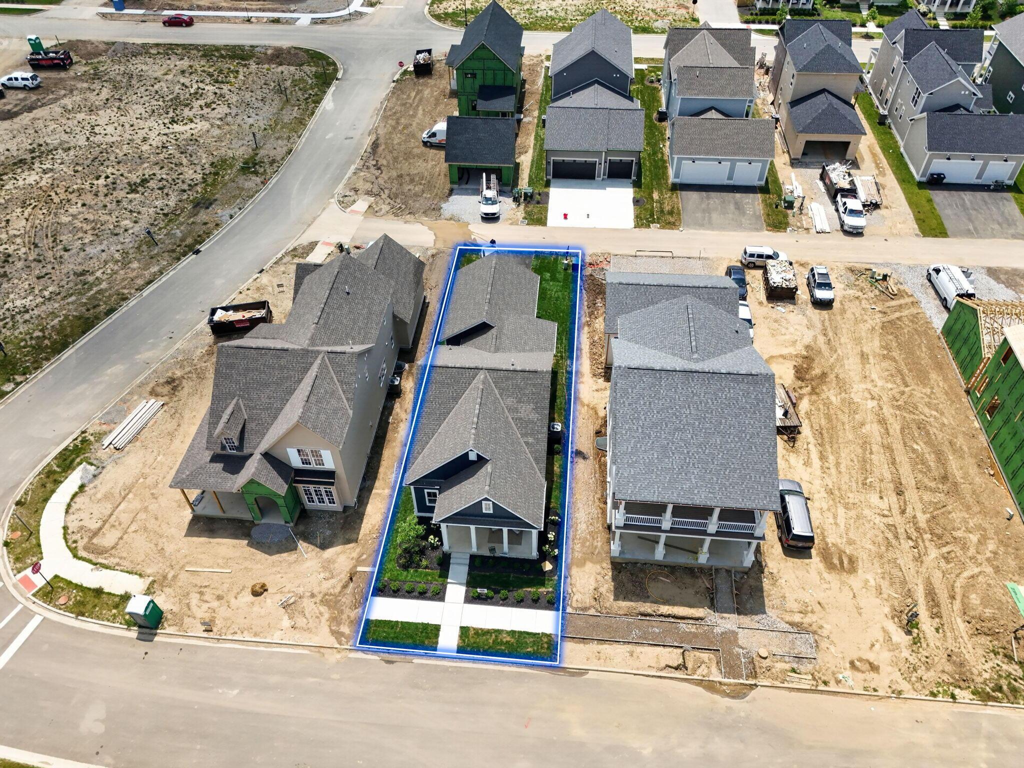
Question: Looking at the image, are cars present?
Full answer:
Yes, there is a car in the image.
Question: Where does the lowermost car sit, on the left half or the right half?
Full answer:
The lowermost car is on the right side of the image.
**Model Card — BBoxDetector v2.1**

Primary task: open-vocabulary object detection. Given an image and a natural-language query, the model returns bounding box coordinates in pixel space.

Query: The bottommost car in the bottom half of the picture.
[778,479,818,547]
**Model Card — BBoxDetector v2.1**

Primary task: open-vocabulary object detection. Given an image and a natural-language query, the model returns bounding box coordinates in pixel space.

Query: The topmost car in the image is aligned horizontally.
[162,14,195,27]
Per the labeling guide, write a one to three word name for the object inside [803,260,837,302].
car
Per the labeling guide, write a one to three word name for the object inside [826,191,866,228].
truck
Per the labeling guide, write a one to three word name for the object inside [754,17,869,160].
house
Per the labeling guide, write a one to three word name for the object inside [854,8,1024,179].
house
